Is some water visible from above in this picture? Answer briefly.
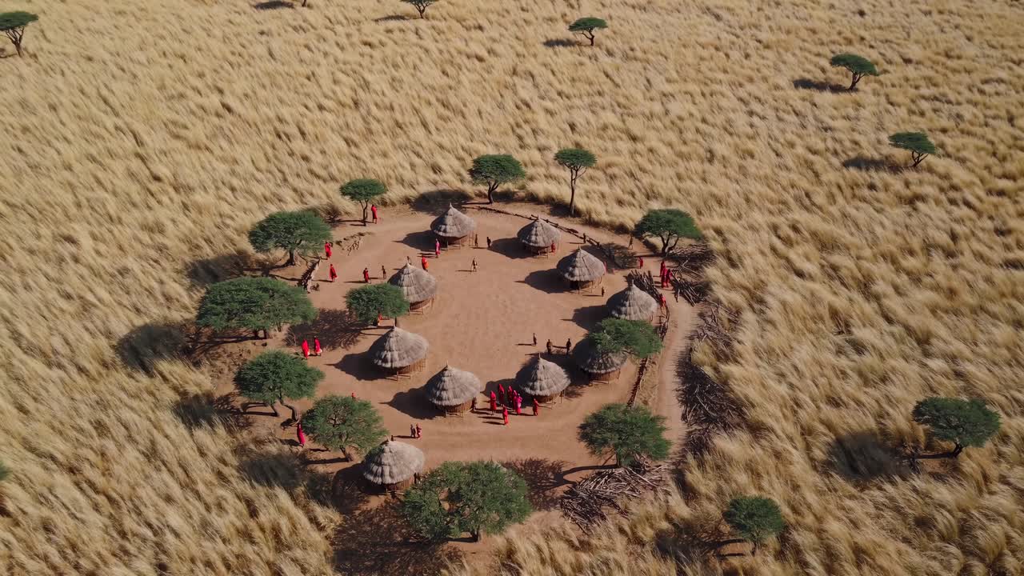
No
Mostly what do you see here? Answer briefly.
grass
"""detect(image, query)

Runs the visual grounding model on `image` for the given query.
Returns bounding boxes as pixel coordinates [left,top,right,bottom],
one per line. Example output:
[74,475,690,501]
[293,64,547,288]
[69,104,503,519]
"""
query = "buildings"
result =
[574,338,629,383]
[607,276,659,323]
[367,323,430,378]
[430,203,476,246]
[516,349,572,406]
[425,362,483,414]
[558,245,607,290]
[516,212,563,254]
[390,258,437,311]
[362,432,424,495]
